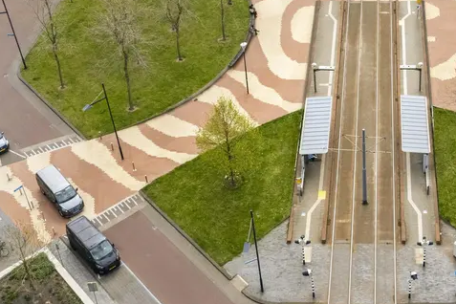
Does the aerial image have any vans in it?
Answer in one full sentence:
Yes, a van is visible in the scene.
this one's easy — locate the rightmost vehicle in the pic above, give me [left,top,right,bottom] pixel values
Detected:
[64,213,117,272]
